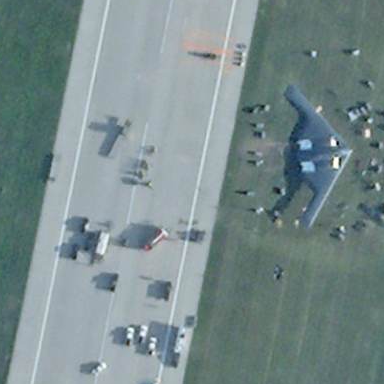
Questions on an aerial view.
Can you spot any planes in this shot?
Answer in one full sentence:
Yes, I can see a plane in this picture.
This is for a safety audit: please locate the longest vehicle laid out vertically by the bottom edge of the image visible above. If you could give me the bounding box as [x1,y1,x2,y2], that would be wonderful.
[173,323,189,365]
